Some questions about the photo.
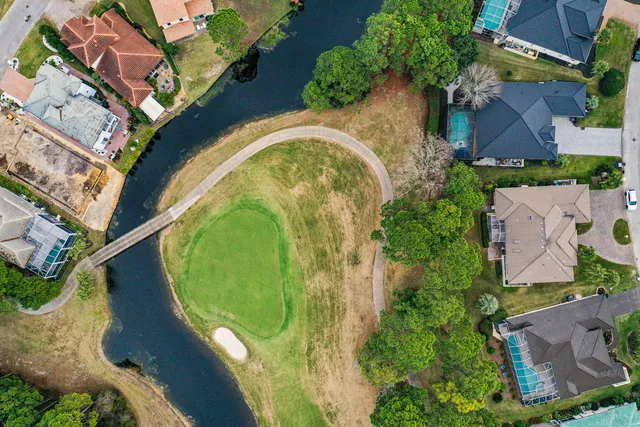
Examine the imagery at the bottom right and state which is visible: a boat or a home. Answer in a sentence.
The feature located at the bottom right is a home.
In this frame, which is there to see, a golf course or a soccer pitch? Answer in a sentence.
The image shows a golf course.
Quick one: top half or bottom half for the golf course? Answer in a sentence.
The bottom half of the photo is where the golf course is.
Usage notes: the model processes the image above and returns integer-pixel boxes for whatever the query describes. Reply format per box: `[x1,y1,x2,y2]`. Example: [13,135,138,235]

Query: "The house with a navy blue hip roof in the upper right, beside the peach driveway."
[502,0,608,66]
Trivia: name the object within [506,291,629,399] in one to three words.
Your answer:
house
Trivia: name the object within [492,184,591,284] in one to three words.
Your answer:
house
